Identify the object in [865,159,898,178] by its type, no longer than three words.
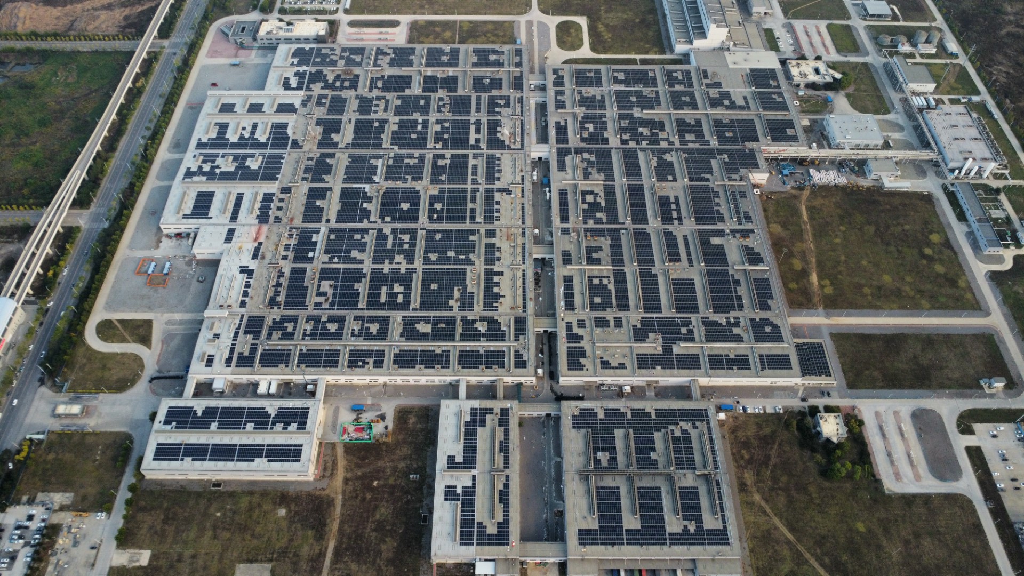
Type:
building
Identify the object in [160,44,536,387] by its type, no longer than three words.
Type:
building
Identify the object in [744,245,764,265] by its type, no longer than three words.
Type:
solar array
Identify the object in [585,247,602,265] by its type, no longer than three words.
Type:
solar array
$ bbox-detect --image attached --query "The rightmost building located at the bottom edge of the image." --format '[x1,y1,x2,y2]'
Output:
[560,401,744,576]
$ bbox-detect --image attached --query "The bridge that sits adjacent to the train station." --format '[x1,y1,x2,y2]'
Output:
[0,0,175,315]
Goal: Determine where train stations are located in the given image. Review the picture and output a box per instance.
[0,302,34,385]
